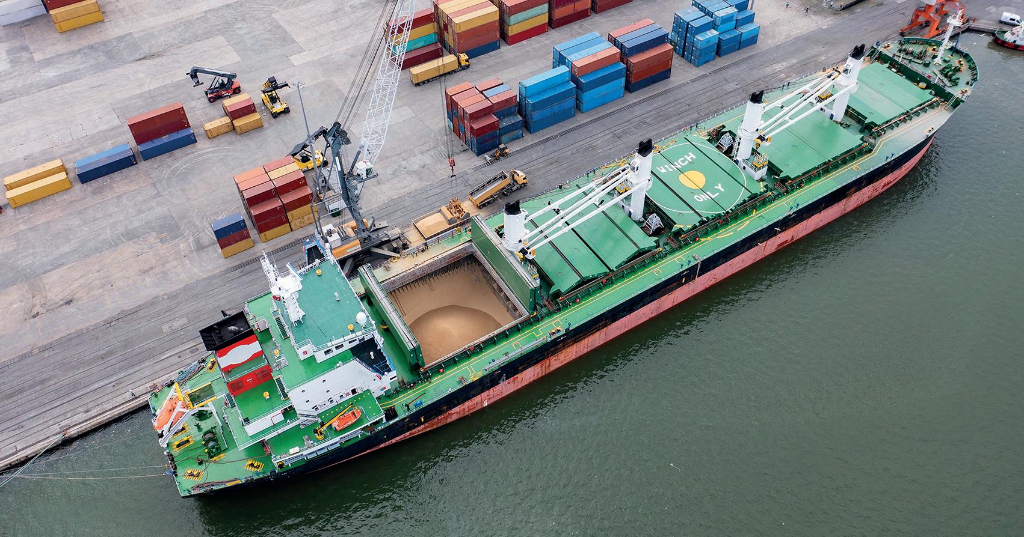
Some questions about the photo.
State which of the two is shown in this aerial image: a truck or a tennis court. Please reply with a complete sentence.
The image shows a truck.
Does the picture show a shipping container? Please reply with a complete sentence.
Yes, a shipping container appears in the view.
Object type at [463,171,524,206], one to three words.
truck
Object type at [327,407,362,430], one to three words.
boat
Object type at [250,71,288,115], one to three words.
work vehicle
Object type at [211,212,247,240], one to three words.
shipping container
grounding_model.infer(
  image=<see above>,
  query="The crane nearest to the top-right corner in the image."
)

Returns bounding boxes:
[896,0,956,40]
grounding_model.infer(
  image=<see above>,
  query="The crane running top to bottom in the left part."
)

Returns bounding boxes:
[311,0,456,281]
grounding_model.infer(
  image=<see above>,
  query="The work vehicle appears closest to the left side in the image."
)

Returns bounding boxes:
[179,66,238,100]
